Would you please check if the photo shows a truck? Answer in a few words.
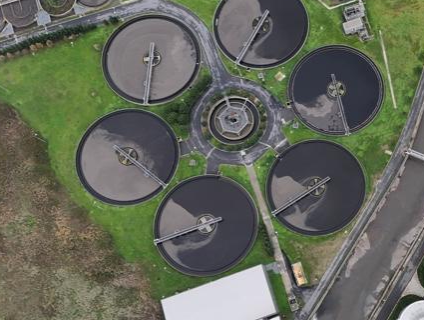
No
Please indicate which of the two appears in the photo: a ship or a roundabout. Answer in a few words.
roundabout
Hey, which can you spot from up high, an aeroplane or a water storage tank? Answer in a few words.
water storage tank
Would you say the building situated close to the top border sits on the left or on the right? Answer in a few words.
right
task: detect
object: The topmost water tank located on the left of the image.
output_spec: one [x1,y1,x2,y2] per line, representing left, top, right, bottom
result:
[102,14,201,107]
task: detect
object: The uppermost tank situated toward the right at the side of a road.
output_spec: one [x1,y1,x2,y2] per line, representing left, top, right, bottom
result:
[213,0,309,69]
